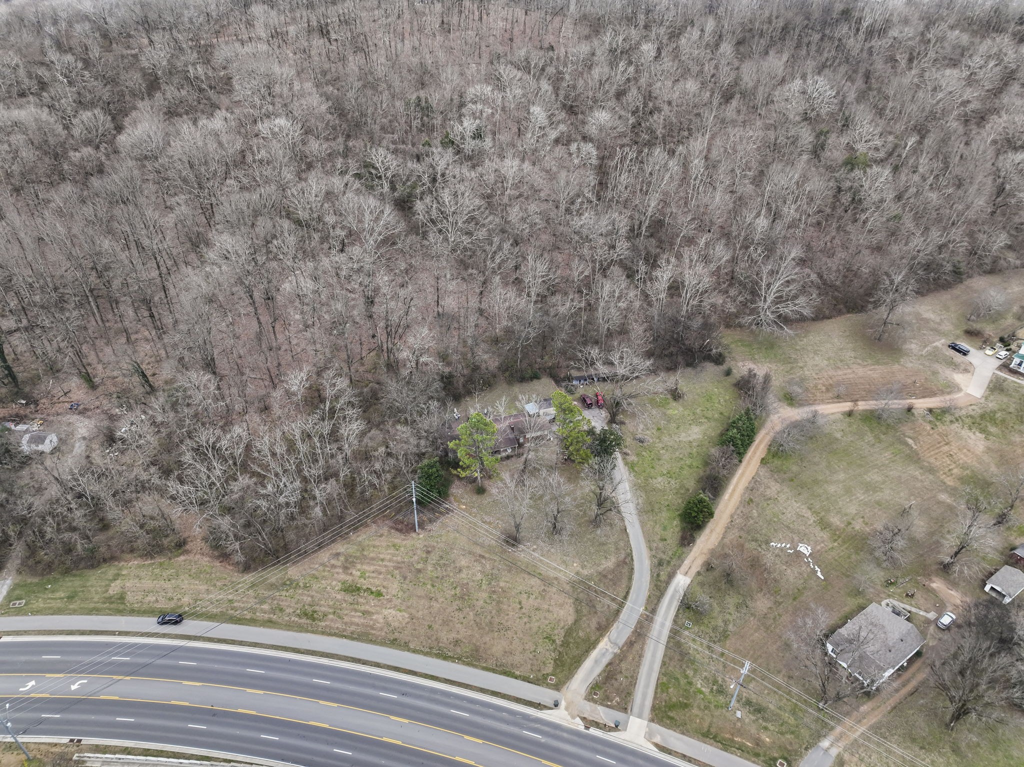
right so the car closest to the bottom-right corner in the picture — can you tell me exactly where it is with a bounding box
[937,611,956,631]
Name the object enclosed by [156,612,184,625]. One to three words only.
vehicle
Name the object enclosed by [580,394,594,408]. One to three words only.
car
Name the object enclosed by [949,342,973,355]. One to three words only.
vehicle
